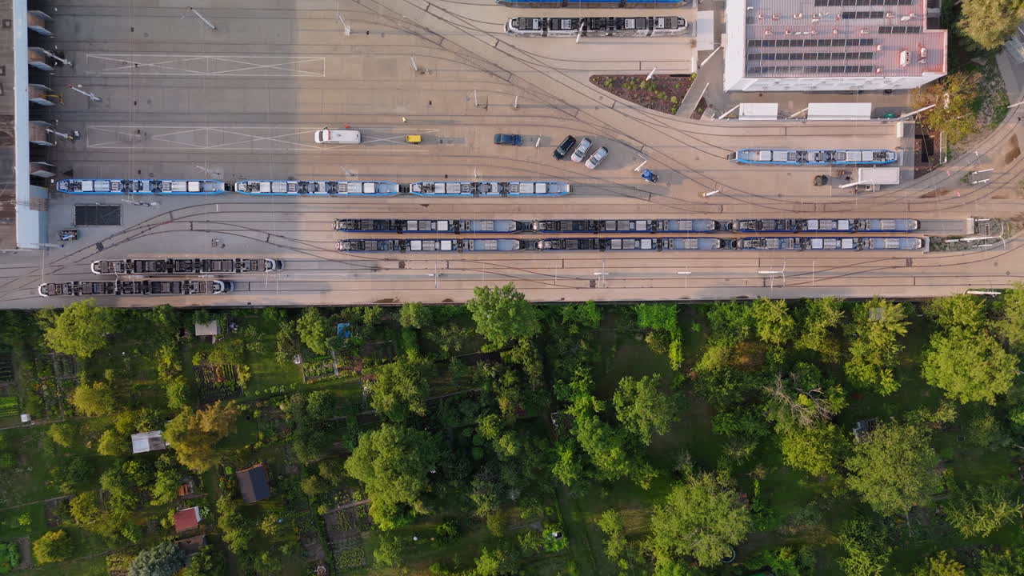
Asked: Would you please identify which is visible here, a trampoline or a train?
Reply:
train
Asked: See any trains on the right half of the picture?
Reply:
Yes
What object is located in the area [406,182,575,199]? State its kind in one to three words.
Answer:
train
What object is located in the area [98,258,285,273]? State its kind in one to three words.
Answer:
train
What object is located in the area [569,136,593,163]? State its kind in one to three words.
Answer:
car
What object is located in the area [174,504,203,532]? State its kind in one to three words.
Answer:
shed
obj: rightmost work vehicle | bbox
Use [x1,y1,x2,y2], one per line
[641,168,659,184]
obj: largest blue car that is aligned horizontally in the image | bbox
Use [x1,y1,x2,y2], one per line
[494,133,521,146]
